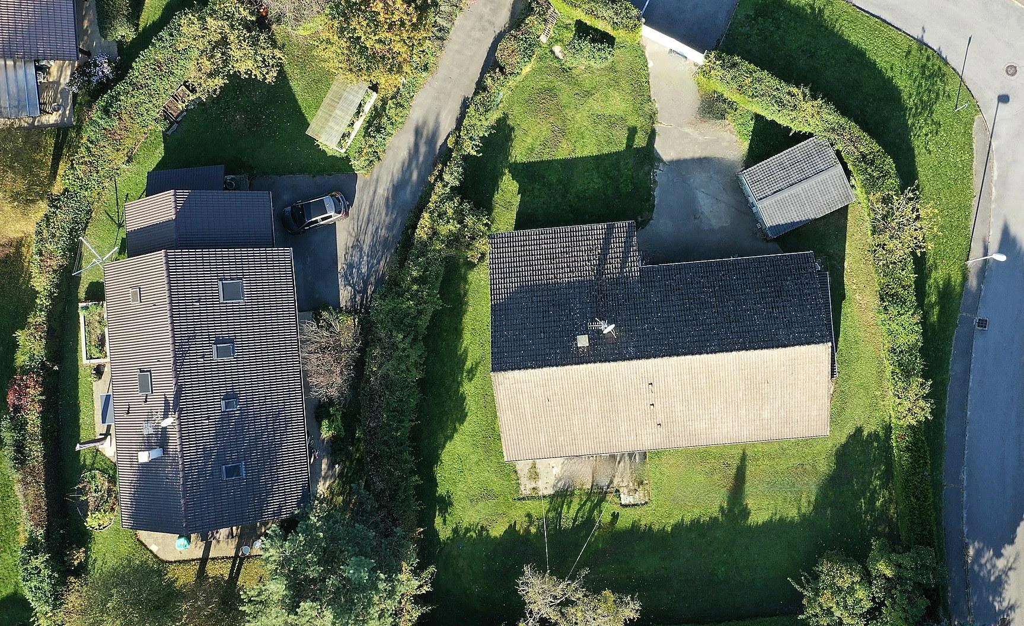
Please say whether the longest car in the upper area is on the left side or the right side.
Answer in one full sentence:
The longest car in the upper area appears in the left half of the scene.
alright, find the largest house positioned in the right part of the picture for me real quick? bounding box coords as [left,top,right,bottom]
[489,220,831,463]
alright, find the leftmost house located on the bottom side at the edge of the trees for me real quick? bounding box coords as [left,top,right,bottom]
[102,248,318,534]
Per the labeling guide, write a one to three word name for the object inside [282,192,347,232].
car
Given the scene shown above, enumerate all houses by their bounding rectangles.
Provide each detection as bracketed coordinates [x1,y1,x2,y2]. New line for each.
[0,0,91,69]
[489,220,831,463]
[102,248,318,534]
